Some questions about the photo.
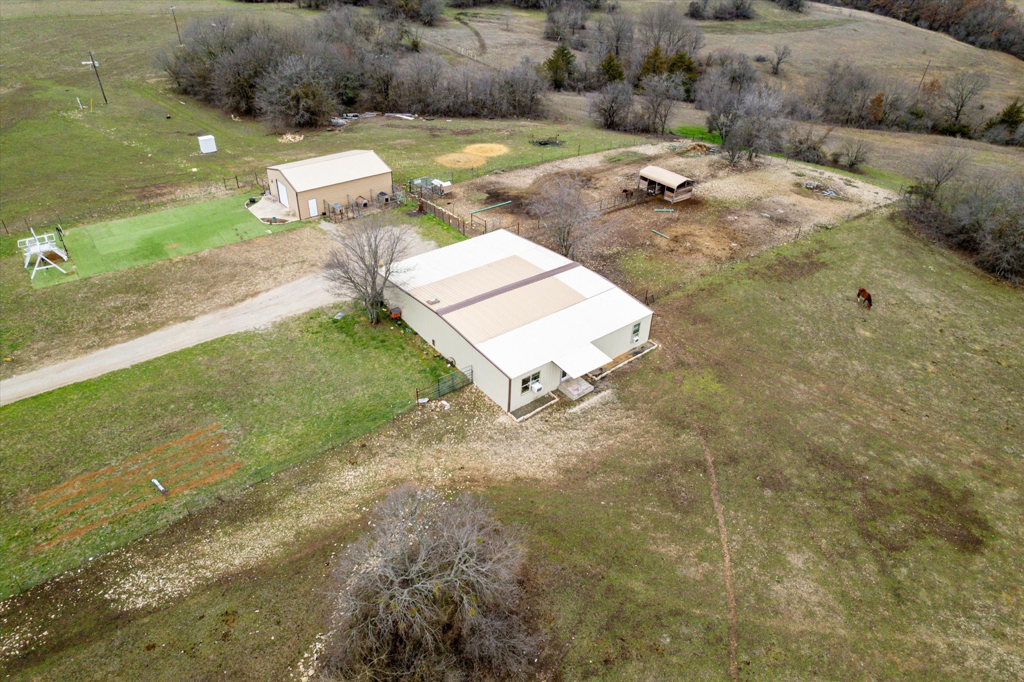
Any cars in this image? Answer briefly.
No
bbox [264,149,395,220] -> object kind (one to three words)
building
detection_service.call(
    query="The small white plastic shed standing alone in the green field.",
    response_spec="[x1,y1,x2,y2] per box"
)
[199,131,224,152]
